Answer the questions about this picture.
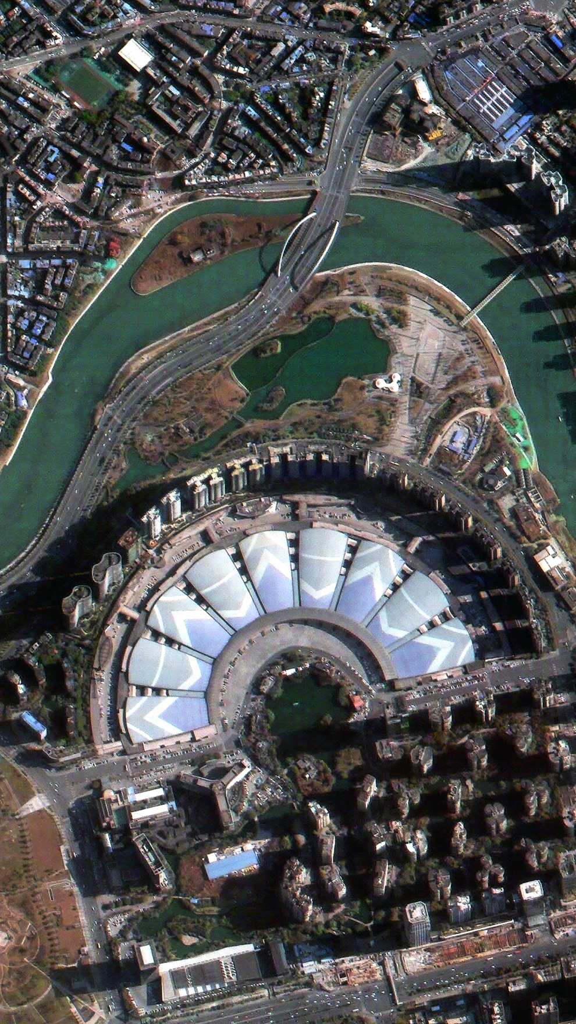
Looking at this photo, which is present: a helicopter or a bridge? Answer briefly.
bridge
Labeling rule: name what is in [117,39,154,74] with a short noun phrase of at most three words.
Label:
building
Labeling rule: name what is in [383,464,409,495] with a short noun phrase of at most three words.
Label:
building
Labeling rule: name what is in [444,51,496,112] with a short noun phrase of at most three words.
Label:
shed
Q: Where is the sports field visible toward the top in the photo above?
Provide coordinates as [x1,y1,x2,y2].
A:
[63,62,114,106]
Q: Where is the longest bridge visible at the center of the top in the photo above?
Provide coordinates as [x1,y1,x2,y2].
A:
[262,187,352,313]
